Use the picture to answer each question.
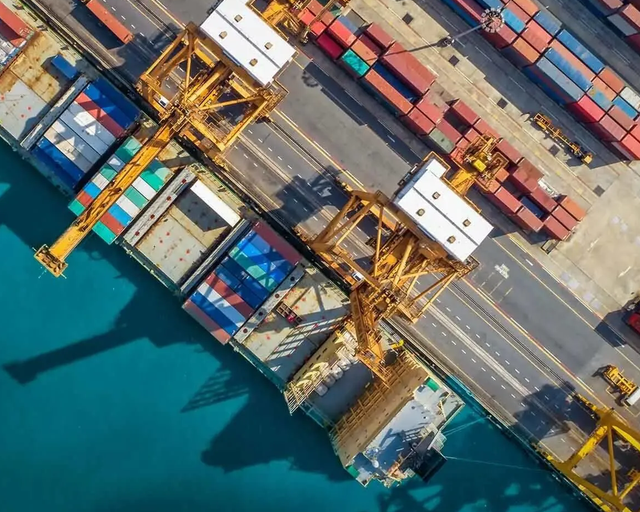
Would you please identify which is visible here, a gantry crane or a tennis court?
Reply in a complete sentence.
Of the two, only a gantry crane appears.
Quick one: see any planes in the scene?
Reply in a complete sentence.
No, I find no plane anywhere in the image.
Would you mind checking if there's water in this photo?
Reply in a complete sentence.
Yes, water can be seen from above here.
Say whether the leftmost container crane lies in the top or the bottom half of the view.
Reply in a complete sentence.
Seen from above, the leftmost container crane lies in the top half of the view.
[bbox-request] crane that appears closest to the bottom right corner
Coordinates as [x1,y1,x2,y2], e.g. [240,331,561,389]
[531,388,640,512]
